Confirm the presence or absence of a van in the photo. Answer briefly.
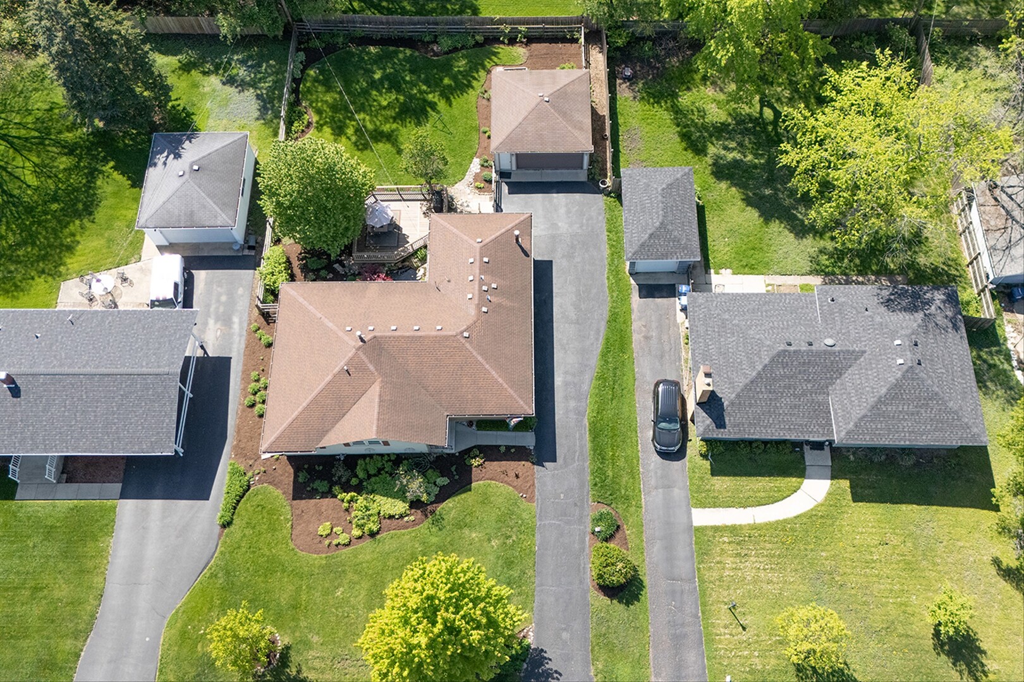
Yes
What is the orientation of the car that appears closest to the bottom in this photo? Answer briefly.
up and down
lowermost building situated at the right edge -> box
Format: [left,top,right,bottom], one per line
[683,284,989,466]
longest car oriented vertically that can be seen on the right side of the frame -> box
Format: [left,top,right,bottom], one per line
[650,381,687,456]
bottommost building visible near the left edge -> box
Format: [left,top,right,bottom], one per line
[0,307,206,481]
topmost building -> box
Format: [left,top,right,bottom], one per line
[490,68,594,169]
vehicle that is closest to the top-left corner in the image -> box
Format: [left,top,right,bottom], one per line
[145,254,192,307]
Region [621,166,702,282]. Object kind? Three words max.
building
